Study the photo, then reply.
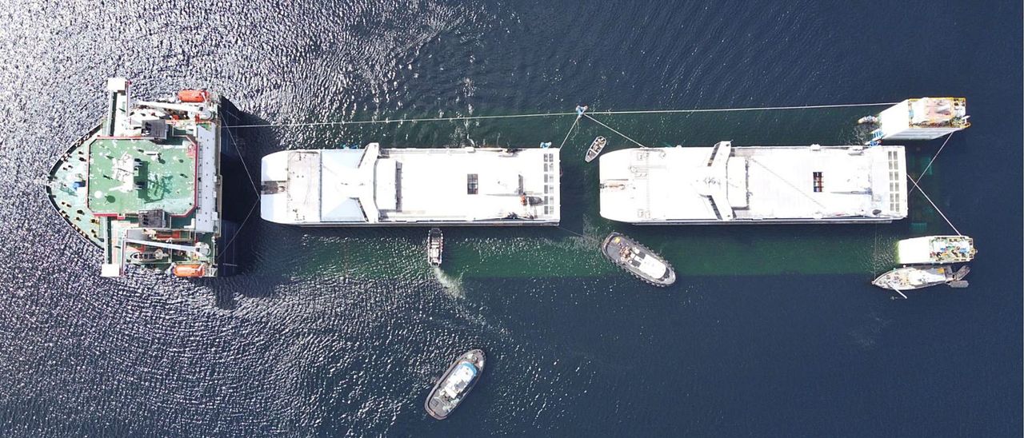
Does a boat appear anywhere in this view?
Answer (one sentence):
Yes, looking at the shot, I can spot a boat.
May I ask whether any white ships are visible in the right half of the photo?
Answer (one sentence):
Yes, I can see a white ship in the right half of the photo.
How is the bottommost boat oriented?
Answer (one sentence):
The bottommost boat runs on a diagonal in the image.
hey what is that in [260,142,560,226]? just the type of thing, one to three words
ship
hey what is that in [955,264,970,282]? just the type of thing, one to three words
boat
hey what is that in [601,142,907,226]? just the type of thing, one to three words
ship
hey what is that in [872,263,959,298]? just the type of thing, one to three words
boat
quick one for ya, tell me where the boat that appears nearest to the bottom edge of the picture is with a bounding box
[425,348,485,420]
